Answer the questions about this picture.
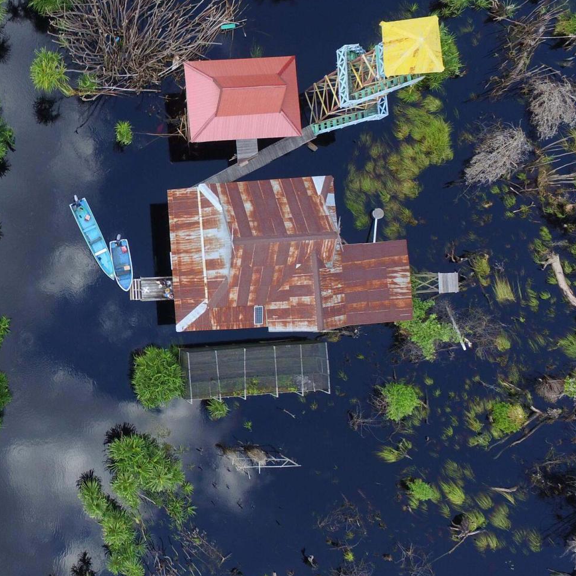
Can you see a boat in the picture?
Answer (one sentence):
Yes, there's a boat down there.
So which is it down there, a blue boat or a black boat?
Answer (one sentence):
This aerial view contains a blue boat.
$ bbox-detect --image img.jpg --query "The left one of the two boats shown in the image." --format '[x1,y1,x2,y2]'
[70,194,115,281]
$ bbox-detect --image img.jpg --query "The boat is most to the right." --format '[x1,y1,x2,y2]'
[109,232,132,291]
